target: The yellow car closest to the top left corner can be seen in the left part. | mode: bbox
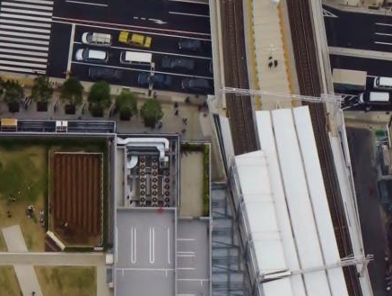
[119,32,149,47]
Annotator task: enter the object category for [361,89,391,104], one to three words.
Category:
car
